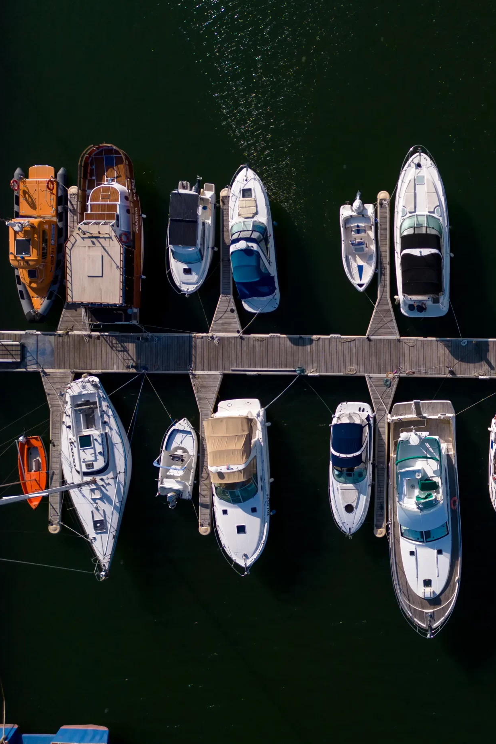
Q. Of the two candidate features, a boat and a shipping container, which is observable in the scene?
boat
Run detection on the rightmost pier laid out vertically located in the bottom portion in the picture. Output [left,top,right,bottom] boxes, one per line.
[365,376,400,538]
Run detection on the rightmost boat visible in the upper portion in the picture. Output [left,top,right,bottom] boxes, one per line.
[395,145,450,317]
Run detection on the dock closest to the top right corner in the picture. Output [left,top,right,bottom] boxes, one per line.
[365,191,401,337]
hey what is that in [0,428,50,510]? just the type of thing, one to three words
boat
